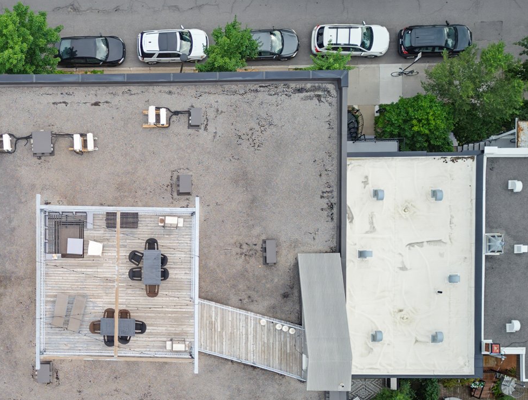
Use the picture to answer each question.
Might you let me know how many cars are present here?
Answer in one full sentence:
The number of cars here is 5.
